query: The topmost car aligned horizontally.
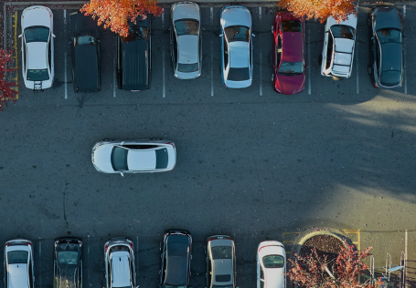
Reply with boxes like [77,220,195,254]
[92,137,177,177]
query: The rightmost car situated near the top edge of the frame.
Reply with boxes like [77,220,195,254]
[367,4,408,89]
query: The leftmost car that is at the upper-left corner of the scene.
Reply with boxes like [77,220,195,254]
[17,4,56,89]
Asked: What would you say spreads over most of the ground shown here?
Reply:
paved ground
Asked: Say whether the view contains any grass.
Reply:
No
